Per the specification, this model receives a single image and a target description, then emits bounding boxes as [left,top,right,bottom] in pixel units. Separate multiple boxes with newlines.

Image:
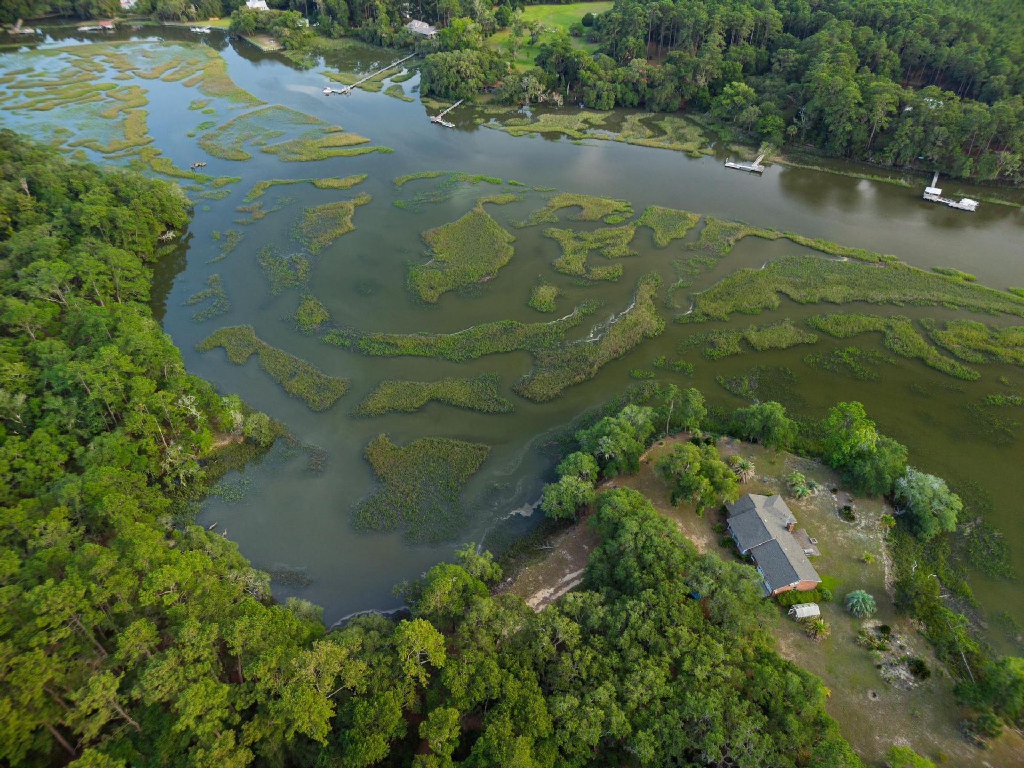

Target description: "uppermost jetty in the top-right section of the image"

[725,142,772,175]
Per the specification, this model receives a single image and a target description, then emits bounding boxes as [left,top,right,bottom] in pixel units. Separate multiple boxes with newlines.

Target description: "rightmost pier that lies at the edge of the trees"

[922,168,979,212]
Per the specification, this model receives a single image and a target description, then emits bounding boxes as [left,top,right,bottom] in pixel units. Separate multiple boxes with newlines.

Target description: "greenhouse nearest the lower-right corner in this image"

[788,605,826,630]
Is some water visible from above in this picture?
Yes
